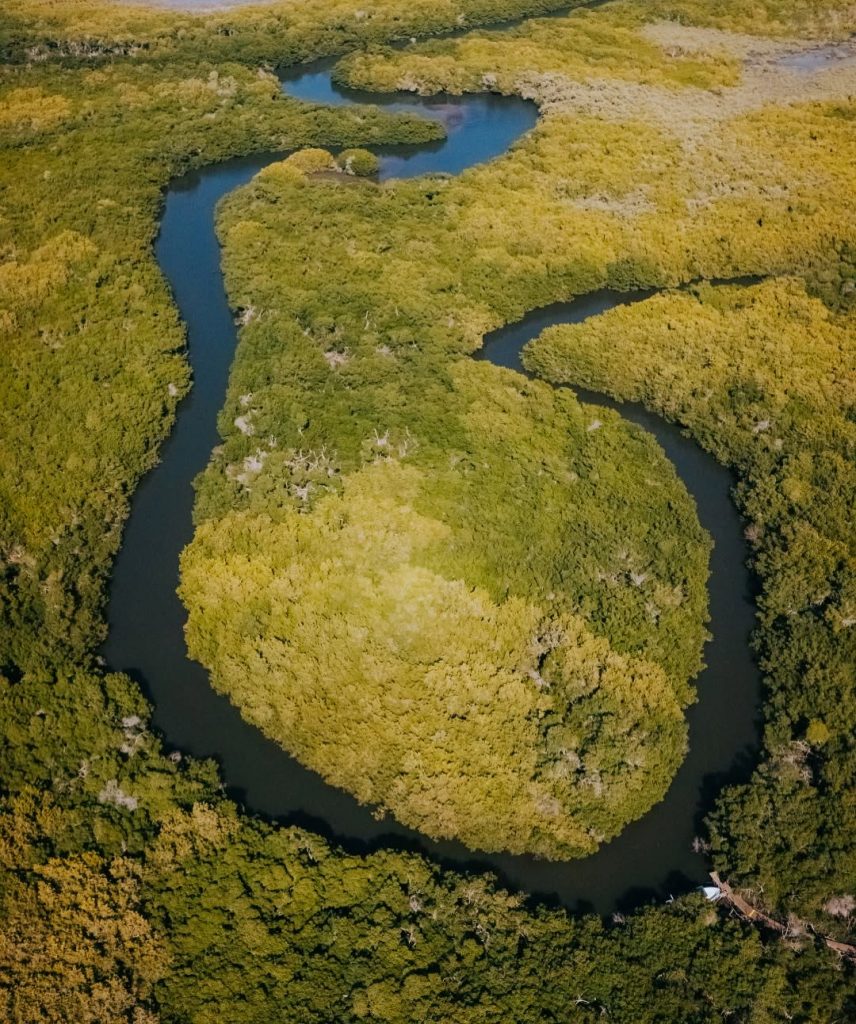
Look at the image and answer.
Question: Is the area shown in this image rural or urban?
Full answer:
It looks rural.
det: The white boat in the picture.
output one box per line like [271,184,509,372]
[697,883,721,901]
